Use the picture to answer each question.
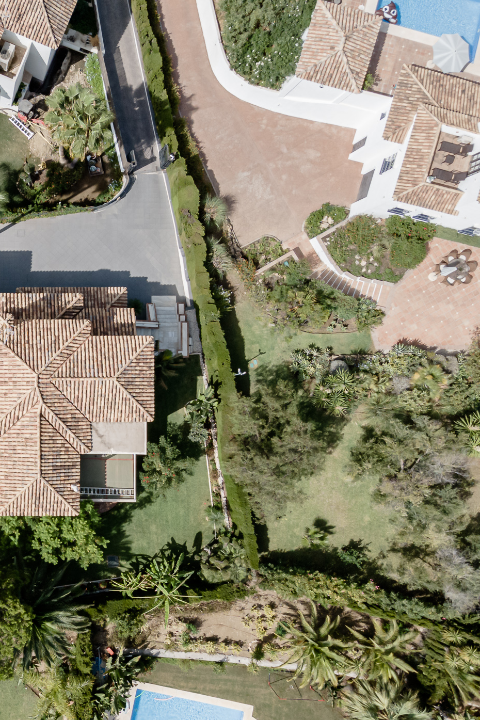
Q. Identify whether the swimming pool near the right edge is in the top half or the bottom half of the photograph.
top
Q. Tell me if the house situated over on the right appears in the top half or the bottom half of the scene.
top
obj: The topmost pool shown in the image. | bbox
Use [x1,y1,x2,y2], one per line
[367,0,480,74]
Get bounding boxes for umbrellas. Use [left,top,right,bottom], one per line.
[421,39,463,74]
[427,267,460,282]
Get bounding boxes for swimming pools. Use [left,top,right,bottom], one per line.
[367,0,480,74]
[112,681,258,720]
